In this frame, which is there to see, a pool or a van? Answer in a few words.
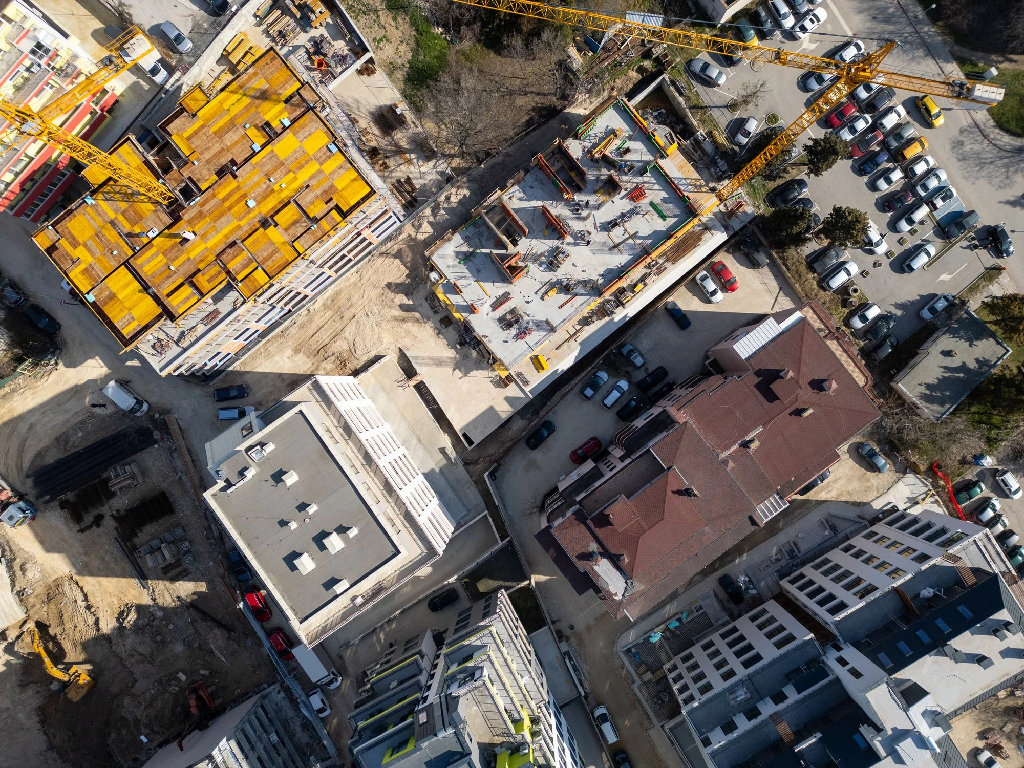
van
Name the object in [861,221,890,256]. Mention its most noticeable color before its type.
white car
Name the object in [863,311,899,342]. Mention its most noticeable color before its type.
black car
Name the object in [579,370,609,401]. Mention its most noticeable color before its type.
blue car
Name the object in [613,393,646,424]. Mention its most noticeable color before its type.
black car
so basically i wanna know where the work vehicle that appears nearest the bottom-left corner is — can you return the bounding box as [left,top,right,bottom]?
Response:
[27,621,97,703]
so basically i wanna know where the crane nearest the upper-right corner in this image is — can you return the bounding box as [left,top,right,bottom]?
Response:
[450,0,1024,202]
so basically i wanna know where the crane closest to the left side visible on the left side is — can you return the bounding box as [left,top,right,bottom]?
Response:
[0,25,178,211]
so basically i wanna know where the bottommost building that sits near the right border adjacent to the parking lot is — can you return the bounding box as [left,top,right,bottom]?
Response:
[659,506,1024,768]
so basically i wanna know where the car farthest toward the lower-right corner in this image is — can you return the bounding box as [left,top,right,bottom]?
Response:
[974,748,1001,768]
